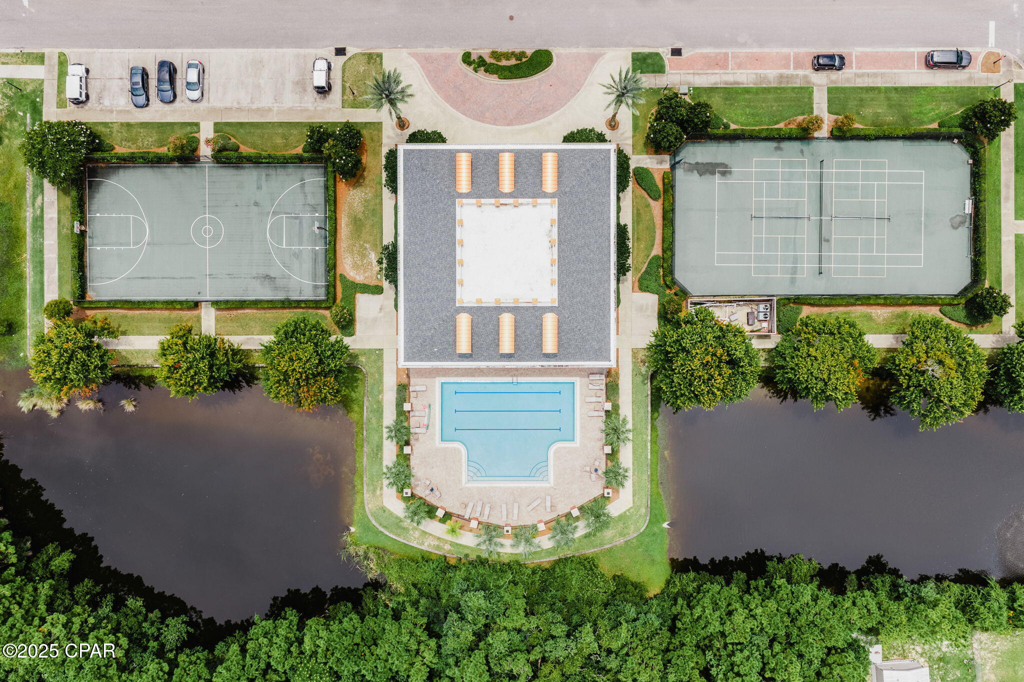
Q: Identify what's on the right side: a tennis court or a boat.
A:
tennis court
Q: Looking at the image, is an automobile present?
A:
Yes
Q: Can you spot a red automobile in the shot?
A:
No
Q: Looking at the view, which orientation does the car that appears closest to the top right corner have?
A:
horizontally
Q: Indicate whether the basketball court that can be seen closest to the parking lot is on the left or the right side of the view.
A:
left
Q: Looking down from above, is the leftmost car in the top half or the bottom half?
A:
top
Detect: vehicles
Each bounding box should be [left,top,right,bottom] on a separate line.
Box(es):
[923,48,969,71]
[156,60,179,105]
[129,66,152,110]
[66,66,91,105]
[809,52,845,72]
[312,59,332,93]
[184,60,206,104]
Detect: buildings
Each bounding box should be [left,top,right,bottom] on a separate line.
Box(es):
[397,143,617,368]
[874,660,944,682]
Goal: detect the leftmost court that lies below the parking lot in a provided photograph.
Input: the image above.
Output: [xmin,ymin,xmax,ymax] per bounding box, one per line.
[85,162,328,301]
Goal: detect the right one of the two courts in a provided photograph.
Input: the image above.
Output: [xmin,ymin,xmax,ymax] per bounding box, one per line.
[671,140,972,296]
